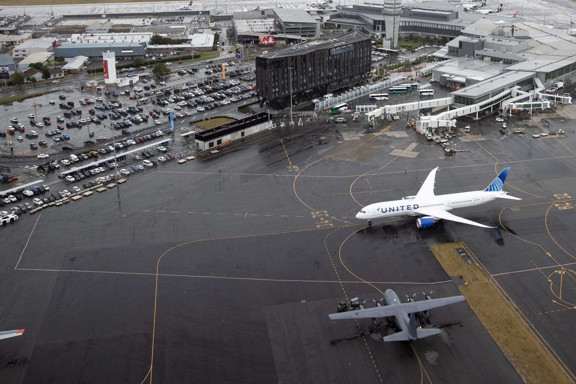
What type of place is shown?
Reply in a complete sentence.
What you see here is an airport.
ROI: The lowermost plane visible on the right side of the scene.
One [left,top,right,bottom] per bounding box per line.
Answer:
[327,286,466,340]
